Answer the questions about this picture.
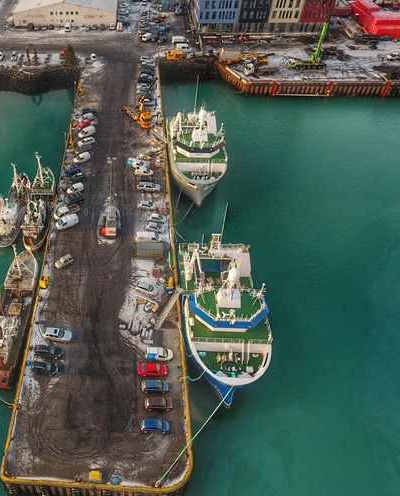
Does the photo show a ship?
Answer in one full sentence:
Yes, looking at the shot, I can spot a ship.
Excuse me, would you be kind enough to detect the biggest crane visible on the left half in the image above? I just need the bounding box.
[119,85,167,133]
